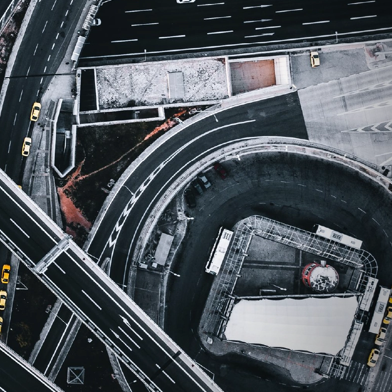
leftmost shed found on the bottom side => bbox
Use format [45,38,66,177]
[149,231,174,266]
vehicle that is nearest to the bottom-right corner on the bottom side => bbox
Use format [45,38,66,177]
[365,346,379,367]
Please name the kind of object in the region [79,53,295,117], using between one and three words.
building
